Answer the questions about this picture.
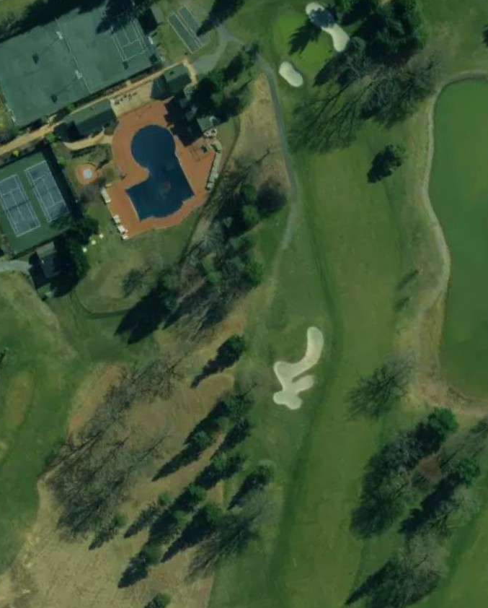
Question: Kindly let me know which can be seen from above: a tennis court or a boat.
tennis court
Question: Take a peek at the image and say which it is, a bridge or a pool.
pool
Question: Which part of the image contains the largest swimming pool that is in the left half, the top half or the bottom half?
top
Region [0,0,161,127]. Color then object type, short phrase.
green sports court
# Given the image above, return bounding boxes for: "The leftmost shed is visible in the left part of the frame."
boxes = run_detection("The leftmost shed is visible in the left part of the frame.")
[27,250,60,287]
